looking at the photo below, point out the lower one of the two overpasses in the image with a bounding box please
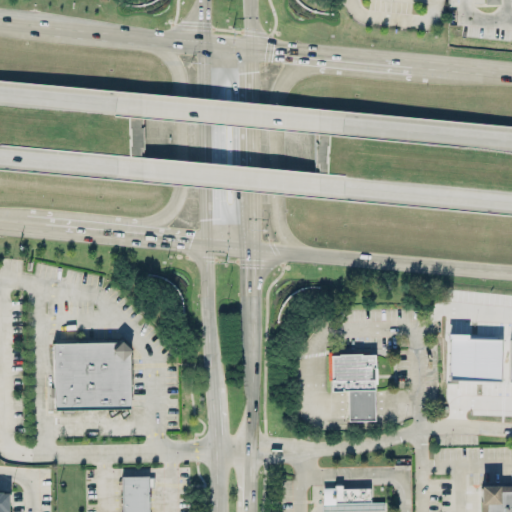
[116,155,344,200]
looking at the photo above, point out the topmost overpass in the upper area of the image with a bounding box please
[116,90,344,136]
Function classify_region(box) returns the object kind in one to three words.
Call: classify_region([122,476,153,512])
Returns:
building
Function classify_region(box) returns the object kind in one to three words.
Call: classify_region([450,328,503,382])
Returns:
building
